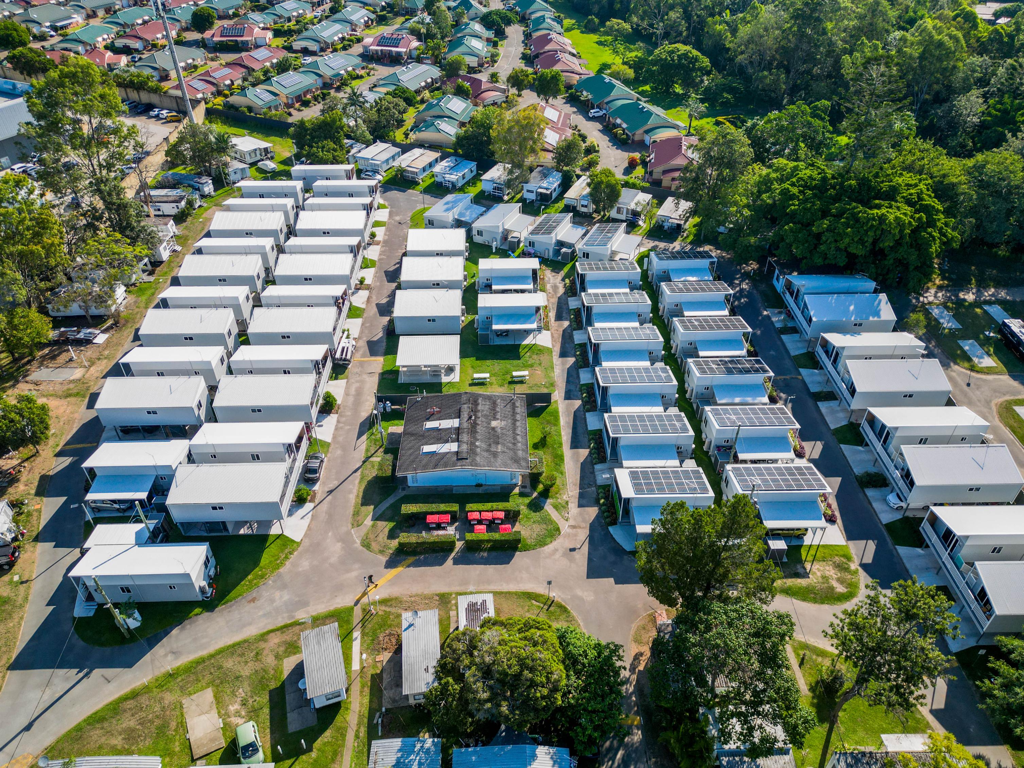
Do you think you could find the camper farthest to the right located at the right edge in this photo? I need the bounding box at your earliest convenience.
[1003,318,1024,357]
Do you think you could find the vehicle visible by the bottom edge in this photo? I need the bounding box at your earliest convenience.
[234,714,263,766]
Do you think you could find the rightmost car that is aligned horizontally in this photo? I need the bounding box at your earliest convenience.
[877,493,926,515]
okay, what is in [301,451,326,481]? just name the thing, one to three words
car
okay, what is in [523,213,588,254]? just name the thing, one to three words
building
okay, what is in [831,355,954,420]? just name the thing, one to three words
building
